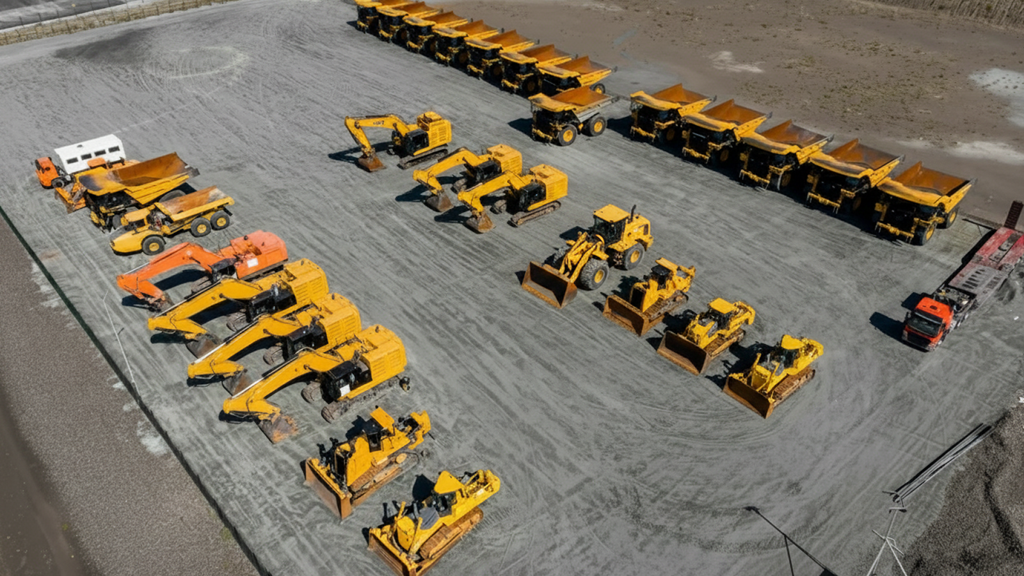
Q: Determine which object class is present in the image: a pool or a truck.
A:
truck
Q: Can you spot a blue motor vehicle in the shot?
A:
No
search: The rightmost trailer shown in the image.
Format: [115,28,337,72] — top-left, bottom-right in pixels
[947,194,1024,302]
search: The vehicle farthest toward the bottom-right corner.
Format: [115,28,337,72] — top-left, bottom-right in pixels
[900,291,971,352]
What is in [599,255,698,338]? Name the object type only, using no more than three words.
work vehicle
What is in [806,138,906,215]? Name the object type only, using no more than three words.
truck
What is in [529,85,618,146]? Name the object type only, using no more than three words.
truck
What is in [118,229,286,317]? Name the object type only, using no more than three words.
work vehicle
